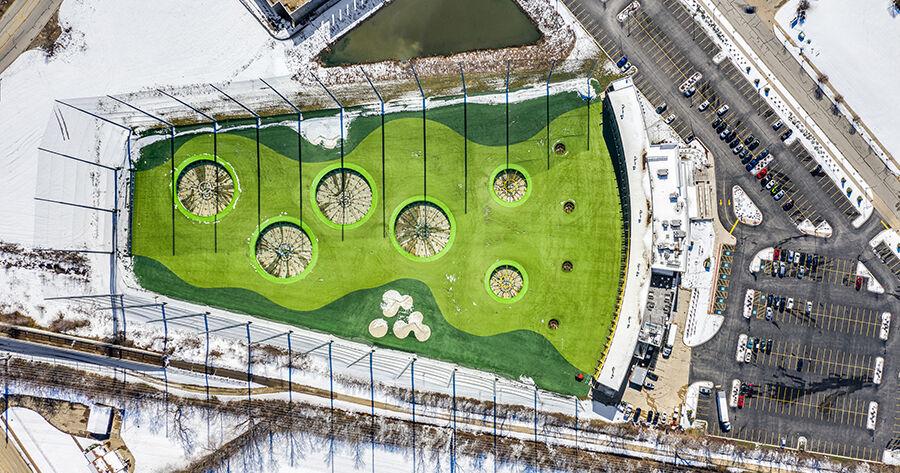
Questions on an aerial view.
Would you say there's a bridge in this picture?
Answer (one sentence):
No, there's no bridge here.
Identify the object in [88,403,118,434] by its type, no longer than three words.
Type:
barn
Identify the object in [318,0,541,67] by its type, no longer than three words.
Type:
pond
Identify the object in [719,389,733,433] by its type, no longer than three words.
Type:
vehicle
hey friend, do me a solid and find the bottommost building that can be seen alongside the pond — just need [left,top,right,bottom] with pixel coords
[590,78,691,405]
